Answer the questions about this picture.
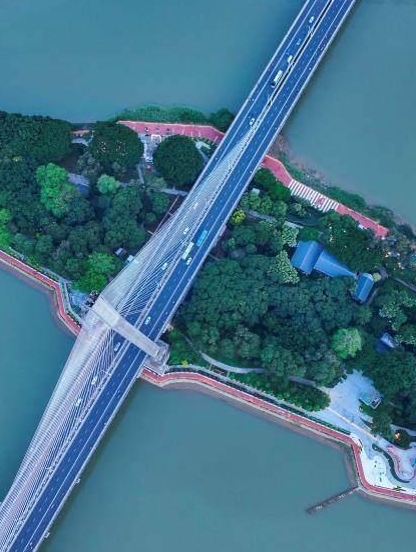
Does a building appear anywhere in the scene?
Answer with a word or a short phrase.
Yes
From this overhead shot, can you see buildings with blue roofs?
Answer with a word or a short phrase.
Yes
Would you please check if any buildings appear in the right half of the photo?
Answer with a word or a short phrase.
Yes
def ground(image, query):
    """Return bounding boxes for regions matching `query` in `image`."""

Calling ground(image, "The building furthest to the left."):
[66,173,91,194]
